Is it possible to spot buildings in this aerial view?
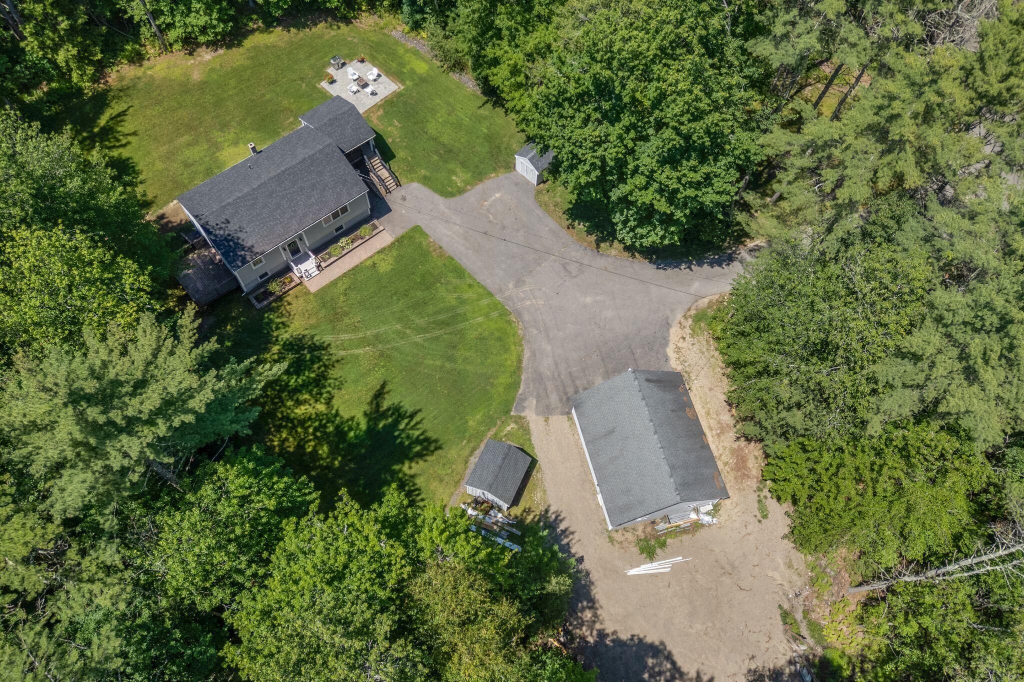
Yes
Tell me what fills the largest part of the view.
trees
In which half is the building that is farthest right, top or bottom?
bottom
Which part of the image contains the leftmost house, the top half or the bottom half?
top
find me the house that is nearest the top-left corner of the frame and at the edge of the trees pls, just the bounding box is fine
[176,96,377,302]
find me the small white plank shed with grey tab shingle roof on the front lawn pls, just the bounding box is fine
[464,439,532,510]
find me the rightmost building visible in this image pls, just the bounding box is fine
[571,368,731,534]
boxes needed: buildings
[514,135,563,186]
[464,439,532,510]
[571,368,731,534]
[176,96,377,302]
